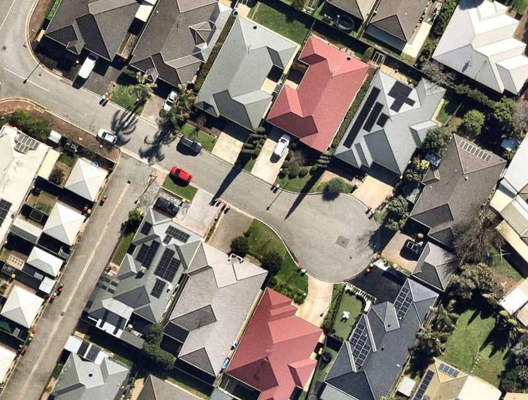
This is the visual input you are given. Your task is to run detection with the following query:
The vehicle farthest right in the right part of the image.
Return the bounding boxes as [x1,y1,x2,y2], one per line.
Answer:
[401,240,424,255]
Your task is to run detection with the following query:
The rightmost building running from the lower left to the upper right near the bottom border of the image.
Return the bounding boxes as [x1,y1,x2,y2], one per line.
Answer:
[318,276,438,400]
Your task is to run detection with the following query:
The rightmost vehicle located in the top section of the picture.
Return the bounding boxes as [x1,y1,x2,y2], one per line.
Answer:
[272,133,290,158]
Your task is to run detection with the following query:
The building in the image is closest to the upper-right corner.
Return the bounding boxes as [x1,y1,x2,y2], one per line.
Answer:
[433,0,528,100]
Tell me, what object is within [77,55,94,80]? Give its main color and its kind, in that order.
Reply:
white vehicle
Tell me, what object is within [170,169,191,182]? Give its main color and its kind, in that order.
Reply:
red vehicle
